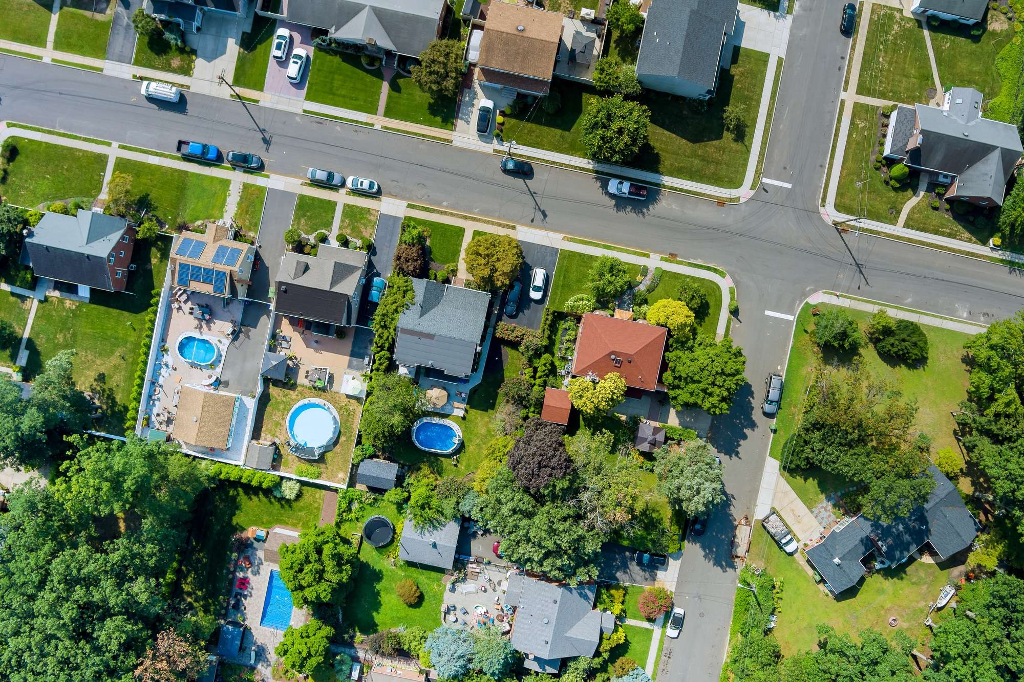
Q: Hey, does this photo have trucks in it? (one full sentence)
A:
Yes, this view includes a truck.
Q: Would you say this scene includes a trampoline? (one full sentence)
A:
Yes, the picture does show a trampoline.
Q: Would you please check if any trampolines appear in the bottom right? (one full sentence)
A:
No, in the bottom right there is no trampoline.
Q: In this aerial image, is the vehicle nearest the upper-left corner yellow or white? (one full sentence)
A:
The vehicle nearest the upper-left corner looks white in the image.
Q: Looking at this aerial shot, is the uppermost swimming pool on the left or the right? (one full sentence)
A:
The uppermost swimming pool appears in the left half of the scene.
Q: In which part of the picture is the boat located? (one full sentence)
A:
The boat sits in the bottom right section of the image.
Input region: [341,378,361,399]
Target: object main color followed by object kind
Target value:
white umbrella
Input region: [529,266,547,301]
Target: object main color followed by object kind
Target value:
white car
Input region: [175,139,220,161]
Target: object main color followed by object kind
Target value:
blue truck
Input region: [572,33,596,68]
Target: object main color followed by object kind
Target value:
gray gazebo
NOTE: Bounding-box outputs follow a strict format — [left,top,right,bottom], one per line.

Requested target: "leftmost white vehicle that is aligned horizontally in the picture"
[141,79,182,103]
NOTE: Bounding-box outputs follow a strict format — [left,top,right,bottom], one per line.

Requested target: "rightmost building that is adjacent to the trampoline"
[398,512,463,570]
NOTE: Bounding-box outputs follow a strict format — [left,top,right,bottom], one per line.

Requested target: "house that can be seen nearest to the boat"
[801,457,982,594]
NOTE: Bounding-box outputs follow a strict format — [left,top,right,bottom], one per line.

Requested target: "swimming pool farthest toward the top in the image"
[178,334,218,366]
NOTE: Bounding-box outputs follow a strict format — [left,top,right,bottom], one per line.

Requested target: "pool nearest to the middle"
[412,417,462,454]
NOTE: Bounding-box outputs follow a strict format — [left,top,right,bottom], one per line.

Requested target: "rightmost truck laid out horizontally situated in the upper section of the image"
[608,180,648,201]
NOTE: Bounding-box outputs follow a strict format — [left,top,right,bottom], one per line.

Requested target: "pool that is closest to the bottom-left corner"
[258,567,293,633]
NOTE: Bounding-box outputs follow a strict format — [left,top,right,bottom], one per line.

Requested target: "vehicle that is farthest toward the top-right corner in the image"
[839,3,859,35]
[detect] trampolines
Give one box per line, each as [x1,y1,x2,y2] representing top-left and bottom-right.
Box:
[360,514,395,550]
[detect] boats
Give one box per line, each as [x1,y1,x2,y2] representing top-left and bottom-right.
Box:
[936,582,959,609]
